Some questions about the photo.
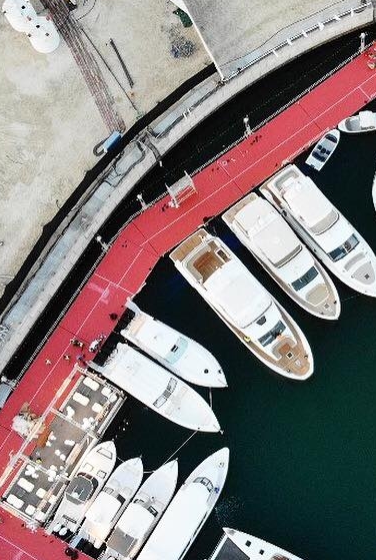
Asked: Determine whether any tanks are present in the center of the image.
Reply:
No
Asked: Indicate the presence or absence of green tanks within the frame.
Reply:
No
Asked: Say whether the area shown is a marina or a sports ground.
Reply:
marina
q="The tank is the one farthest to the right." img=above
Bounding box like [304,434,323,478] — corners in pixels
[30,19,65,58]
